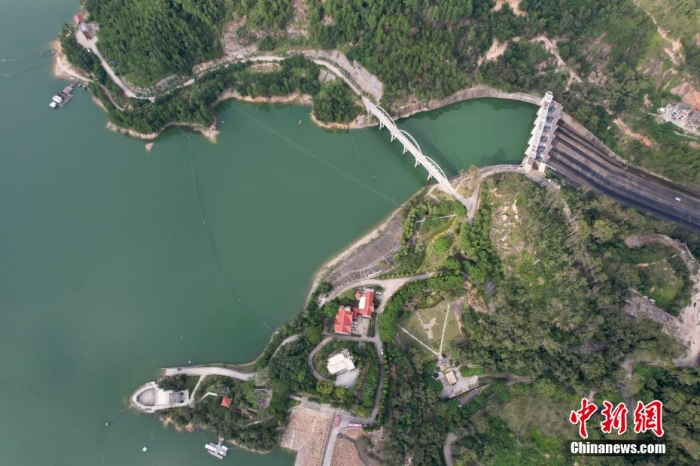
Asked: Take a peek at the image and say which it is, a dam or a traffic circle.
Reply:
dam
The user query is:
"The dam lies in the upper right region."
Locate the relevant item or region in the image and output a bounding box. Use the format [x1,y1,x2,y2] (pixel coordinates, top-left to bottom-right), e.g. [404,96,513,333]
[520,84,564,167]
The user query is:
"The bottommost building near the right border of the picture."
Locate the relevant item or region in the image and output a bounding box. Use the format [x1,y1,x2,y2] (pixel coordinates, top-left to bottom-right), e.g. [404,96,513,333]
[626,290,685,332]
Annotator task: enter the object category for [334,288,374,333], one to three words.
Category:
house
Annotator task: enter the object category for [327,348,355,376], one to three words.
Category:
house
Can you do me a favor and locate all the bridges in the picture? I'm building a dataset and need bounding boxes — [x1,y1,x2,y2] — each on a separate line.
[359,94,468,204]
